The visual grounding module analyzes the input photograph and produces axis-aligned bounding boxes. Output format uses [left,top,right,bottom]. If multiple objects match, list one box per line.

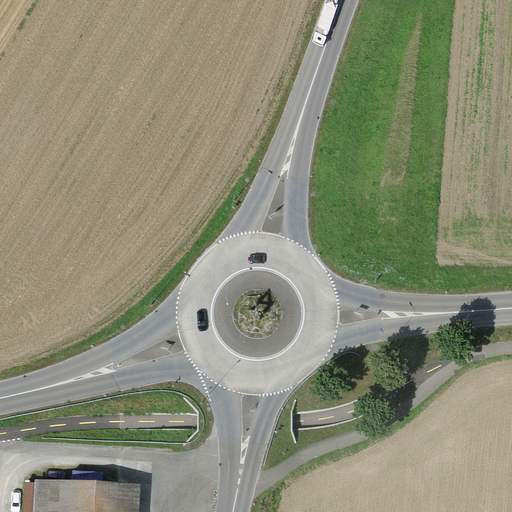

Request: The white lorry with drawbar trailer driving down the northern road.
[311,0,337,47]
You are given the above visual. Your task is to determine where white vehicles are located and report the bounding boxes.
[10,490,21,512]
[311,0,337,47]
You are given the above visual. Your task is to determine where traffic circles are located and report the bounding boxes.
[176,231,340,401]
